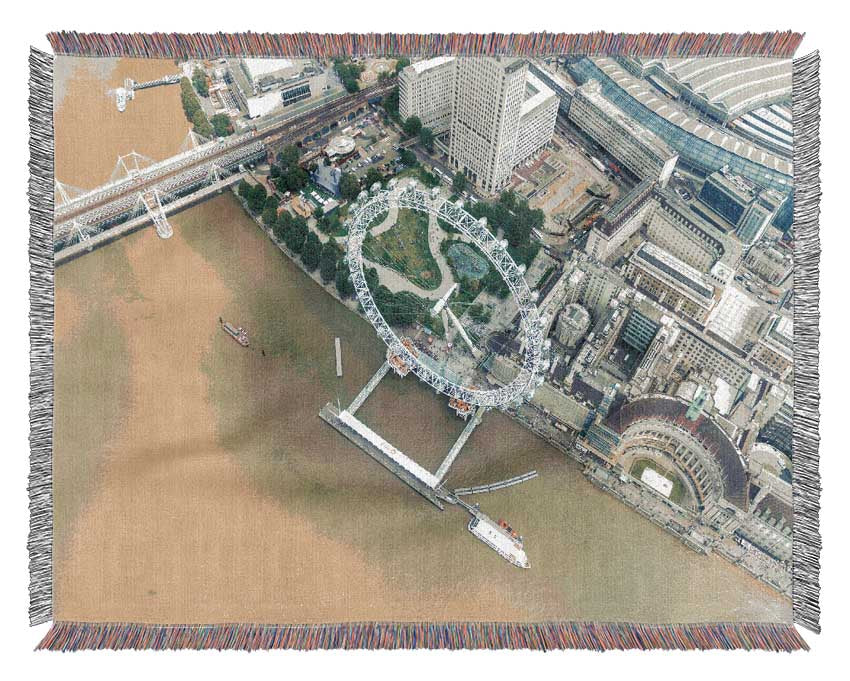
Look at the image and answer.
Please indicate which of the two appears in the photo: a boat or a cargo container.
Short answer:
boat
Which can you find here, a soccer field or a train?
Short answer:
train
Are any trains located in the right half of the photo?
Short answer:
No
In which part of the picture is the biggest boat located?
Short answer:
bottom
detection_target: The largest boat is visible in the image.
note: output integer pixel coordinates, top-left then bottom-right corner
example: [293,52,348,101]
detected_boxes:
[467,512,530,568]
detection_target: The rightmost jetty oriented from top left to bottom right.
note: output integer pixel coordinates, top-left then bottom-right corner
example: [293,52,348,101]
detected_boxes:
[437,485,480,517]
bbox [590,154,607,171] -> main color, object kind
white vehicle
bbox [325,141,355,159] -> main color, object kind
white tent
